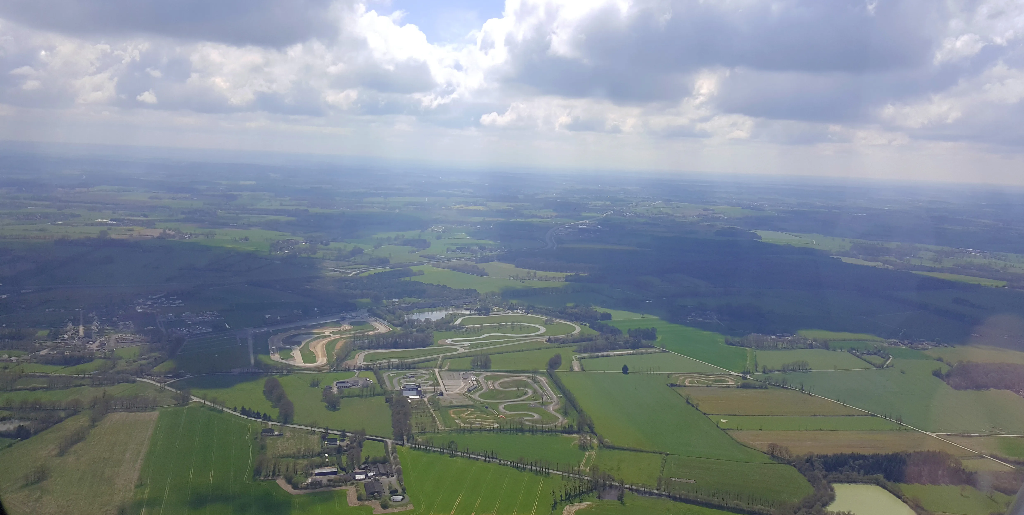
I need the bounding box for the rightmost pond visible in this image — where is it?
[816,483,917,515]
